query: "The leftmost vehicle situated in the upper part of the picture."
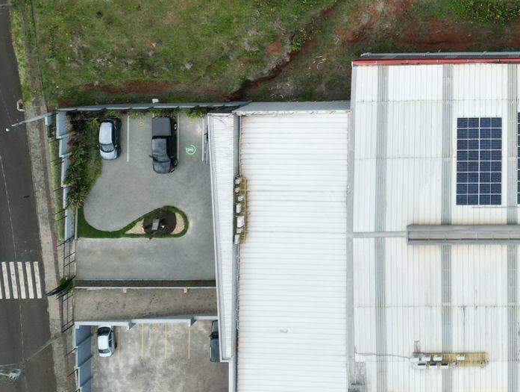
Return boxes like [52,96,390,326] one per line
[97,119,121,160]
